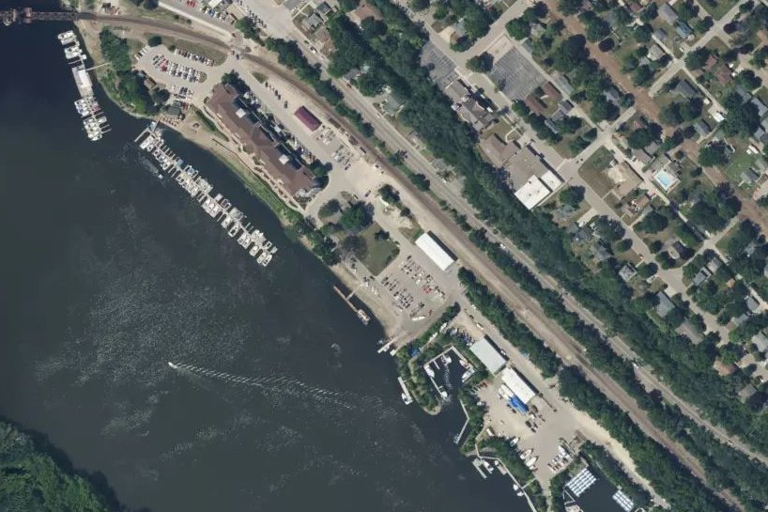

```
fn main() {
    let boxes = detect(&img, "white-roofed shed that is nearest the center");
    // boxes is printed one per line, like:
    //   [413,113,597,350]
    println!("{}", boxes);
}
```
[416,231,454,270]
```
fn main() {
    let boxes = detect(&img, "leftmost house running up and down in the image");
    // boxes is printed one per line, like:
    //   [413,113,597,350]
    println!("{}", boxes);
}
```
[73,63,94,96]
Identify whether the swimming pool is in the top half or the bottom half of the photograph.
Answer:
top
